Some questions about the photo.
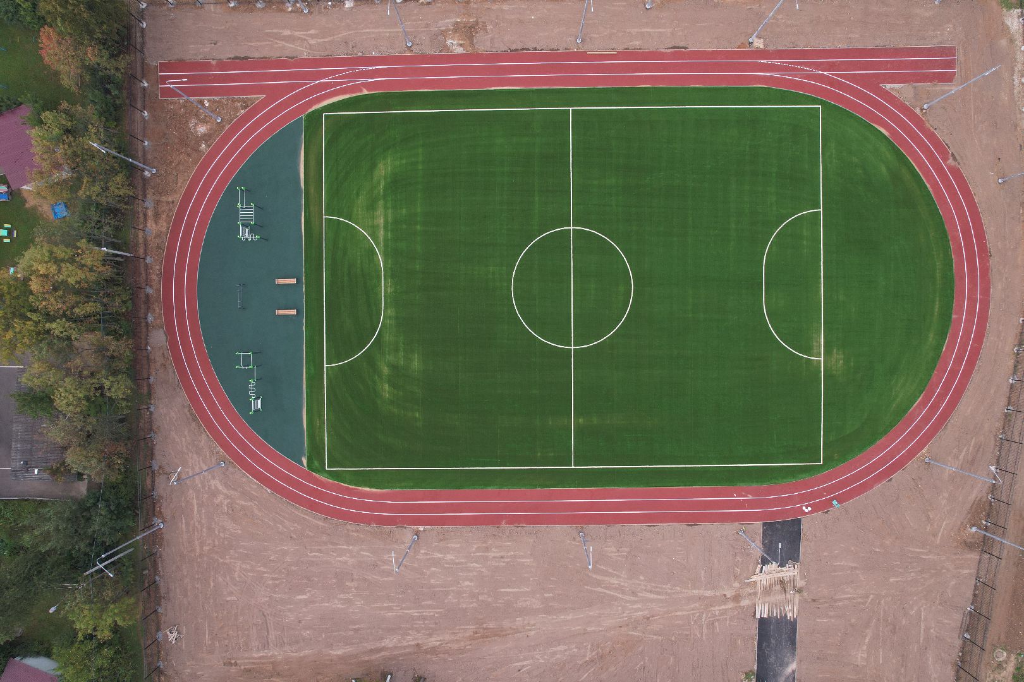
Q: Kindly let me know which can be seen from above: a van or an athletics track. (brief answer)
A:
athletics track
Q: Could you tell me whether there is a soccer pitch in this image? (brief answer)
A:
Yes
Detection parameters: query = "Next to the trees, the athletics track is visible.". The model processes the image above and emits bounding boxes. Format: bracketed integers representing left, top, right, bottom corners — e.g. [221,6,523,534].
[158,44,991,528]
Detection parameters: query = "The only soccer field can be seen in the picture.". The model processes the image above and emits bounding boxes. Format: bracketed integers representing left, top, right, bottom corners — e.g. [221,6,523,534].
[303,86,953,490]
